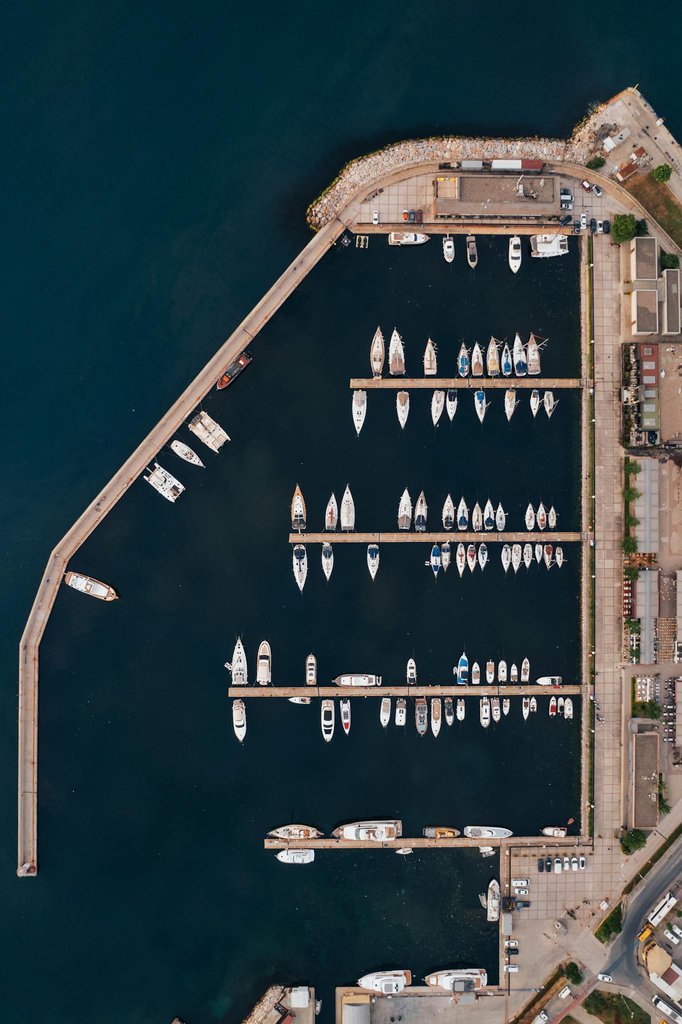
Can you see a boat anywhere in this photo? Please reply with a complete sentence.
Yes, the photo shows a boat.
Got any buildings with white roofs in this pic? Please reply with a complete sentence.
Yes, a building with a white roof appears in the view.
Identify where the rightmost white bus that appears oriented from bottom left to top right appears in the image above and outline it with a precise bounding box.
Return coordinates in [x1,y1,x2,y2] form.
[647,892,678,927]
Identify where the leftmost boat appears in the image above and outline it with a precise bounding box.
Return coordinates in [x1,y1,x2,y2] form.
[62,572,115,600]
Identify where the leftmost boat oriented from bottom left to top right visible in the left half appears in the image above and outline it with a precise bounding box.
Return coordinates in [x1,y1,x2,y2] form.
[217,354,250,389]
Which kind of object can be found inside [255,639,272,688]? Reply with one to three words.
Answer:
boat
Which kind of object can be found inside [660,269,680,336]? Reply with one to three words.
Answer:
building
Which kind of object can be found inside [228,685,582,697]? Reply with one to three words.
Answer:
pier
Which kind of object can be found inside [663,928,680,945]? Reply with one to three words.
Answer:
vehicle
